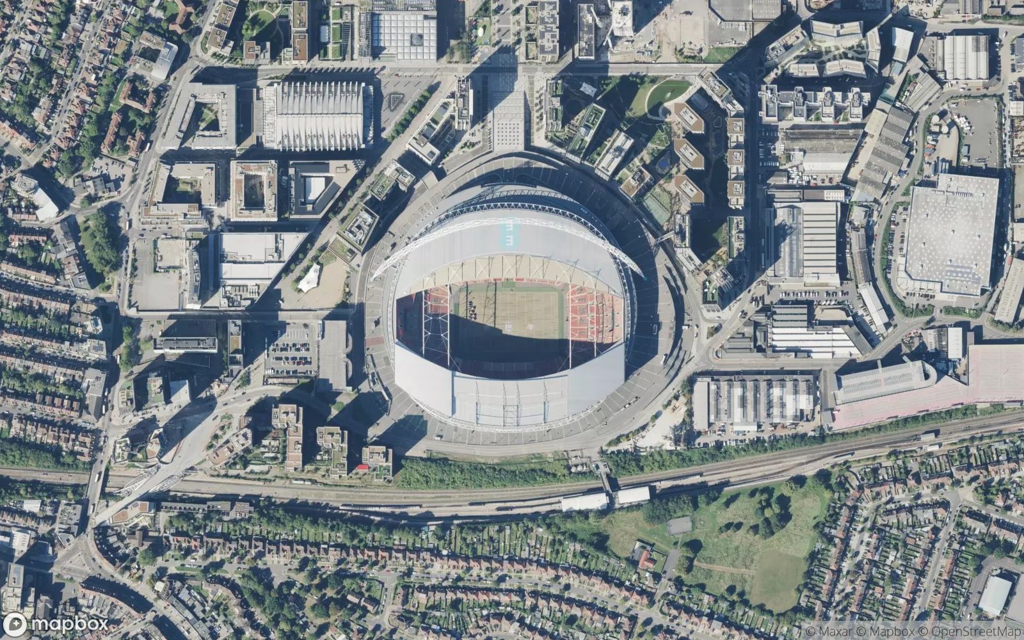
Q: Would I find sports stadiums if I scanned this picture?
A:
Yes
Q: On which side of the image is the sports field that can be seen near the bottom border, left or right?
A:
right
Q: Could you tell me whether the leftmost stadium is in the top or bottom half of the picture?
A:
top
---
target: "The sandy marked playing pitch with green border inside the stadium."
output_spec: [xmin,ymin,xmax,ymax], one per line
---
[454,282,563,365]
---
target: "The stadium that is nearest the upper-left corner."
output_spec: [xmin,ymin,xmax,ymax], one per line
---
[264,80,374,152]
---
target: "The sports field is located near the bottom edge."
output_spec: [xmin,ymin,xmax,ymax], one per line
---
[750,549,807,612]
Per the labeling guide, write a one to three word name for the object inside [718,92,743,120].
building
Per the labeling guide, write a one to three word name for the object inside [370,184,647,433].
stadium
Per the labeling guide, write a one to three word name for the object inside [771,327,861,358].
building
